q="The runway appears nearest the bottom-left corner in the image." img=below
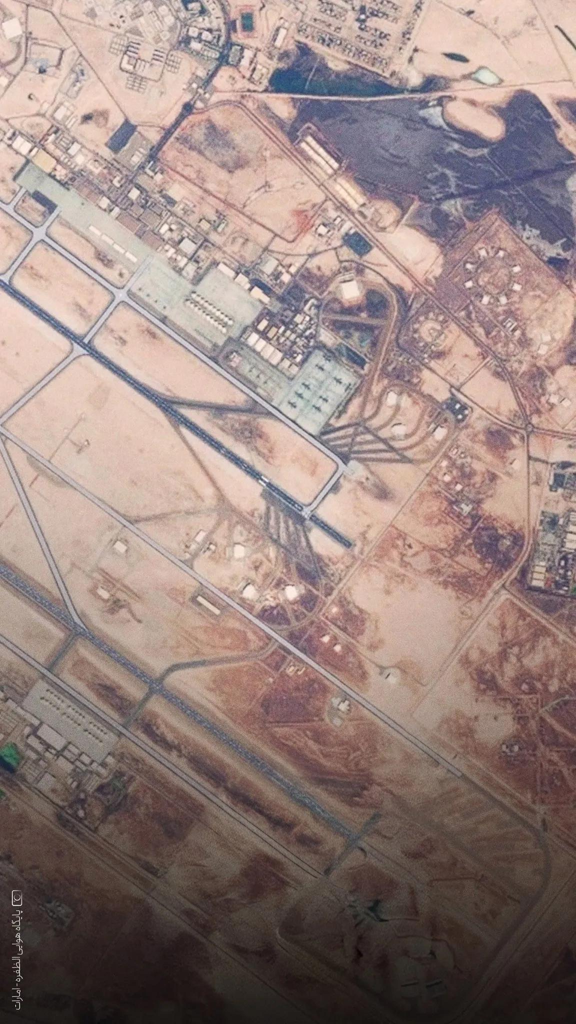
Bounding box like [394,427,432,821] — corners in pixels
[0,567,358,844]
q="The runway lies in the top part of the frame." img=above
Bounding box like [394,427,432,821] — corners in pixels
[0,281,305,511]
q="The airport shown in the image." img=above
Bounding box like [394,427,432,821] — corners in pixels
[0,160,552,926]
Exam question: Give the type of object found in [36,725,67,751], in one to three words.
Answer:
hangar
